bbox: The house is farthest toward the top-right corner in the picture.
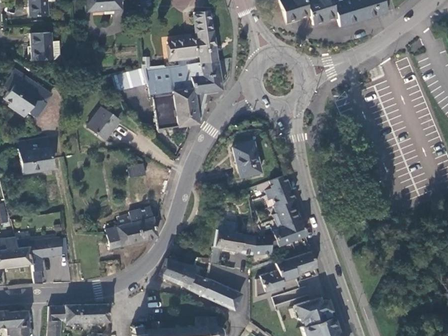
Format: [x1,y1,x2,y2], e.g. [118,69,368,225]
[338,0,389,29]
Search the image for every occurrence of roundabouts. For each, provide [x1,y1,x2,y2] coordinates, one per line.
[235,33,325,118]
